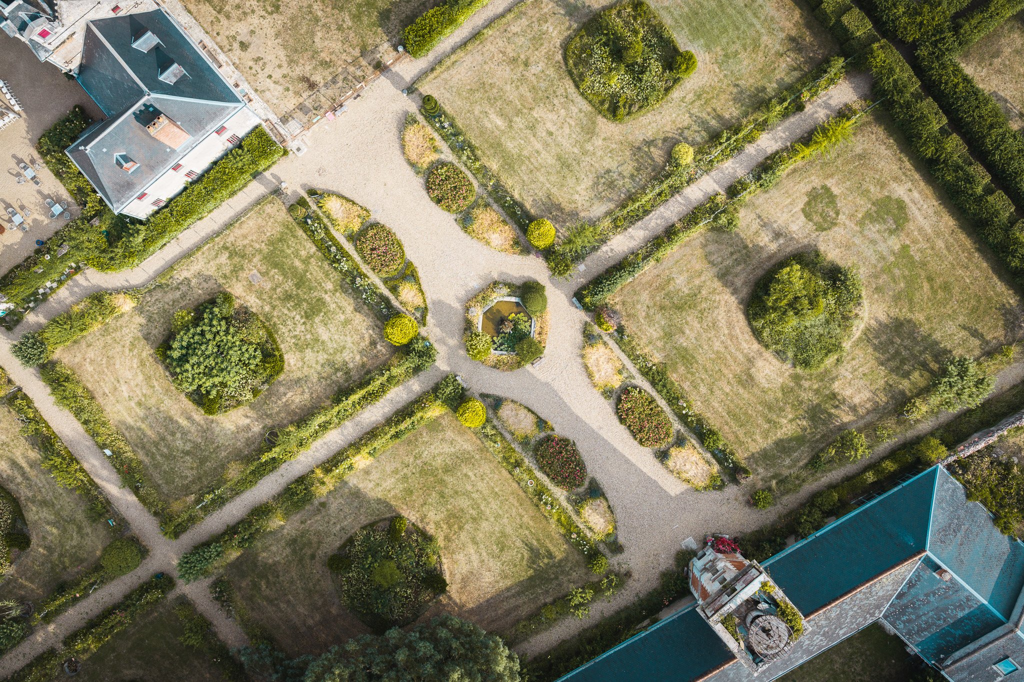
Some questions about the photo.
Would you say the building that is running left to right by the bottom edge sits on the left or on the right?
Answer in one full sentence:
The building that is running left to right by the bottom edge appears in the right half of the scene.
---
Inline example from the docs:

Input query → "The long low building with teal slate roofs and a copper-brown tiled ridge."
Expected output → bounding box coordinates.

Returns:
[549,462,1024,682]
